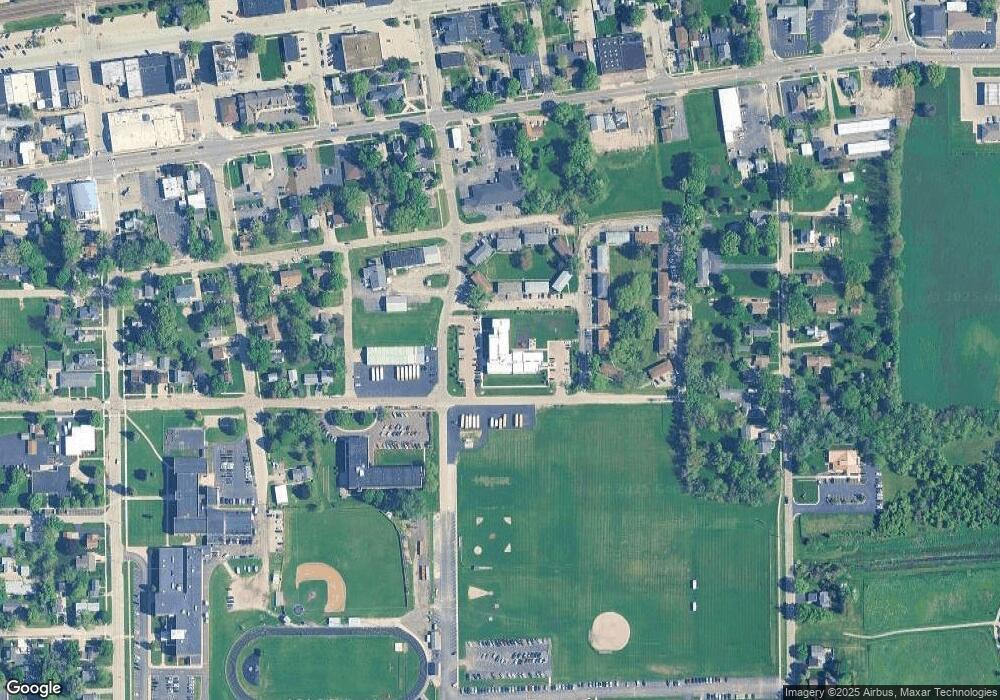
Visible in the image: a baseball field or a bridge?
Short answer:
baseball field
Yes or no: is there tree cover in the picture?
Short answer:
Yes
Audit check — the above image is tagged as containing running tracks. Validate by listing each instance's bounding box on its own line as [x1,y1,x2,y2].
[225,627,428,700]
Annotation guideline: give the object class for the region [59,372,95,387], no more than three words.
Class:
house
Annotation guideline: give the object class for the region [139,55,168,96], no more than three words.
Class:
building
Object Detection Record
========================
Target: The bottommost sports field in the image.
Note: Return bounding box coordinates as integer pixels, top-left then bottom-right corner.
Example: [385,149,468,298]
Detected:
[258,638,394,700]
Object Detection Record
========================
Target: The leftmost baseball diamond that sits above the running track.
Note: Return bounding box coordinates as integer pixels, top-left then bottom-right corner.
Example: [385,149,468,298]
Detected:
[283,503,405,622]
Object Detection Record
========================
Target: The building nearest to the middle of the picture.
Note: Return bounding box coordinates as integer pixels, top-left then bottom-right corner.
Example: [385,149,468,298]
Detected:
[487,318,543,374]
